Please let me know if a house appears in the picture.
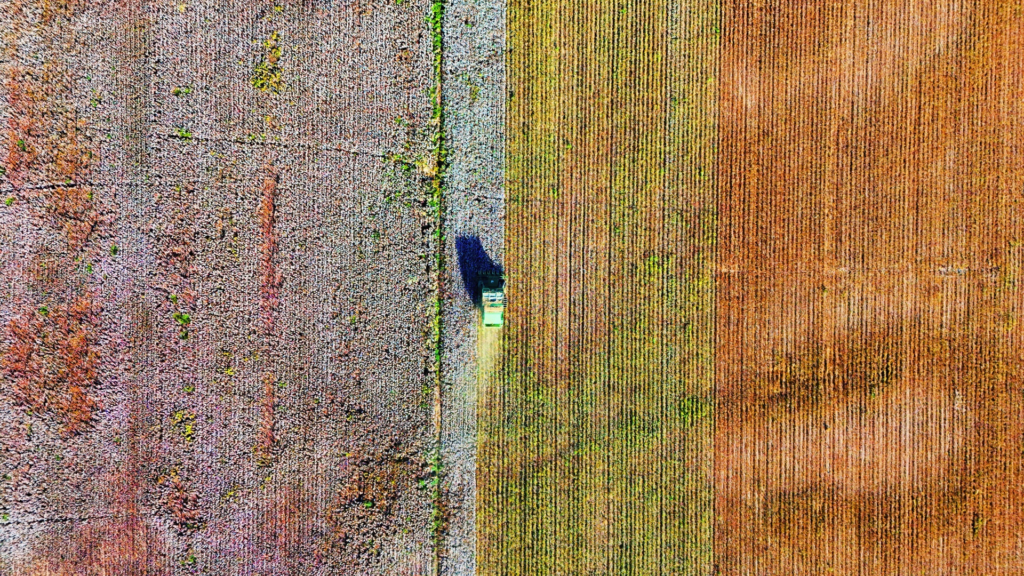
No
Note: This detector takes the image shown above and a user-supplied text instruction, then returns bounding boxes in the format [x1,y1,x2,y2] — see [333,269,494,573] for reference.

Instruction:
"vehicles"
[476,269,508,329]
